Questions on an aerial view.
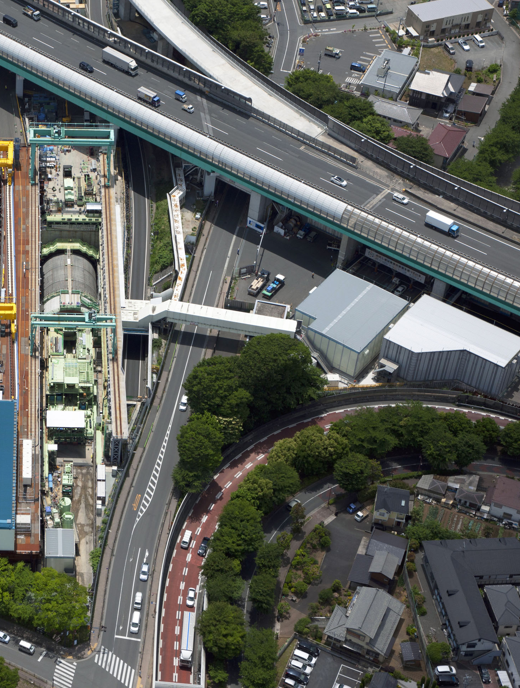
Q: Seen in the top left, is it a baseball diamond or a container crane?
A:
container crane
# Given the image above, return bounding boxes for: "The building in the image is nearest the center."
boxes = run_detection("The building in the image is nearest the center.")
[254,301,287,318]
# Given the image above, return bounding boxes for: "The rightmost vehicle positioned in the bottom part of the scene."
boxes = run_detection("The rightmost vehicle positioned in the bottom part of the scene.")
[477,666,492,686]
